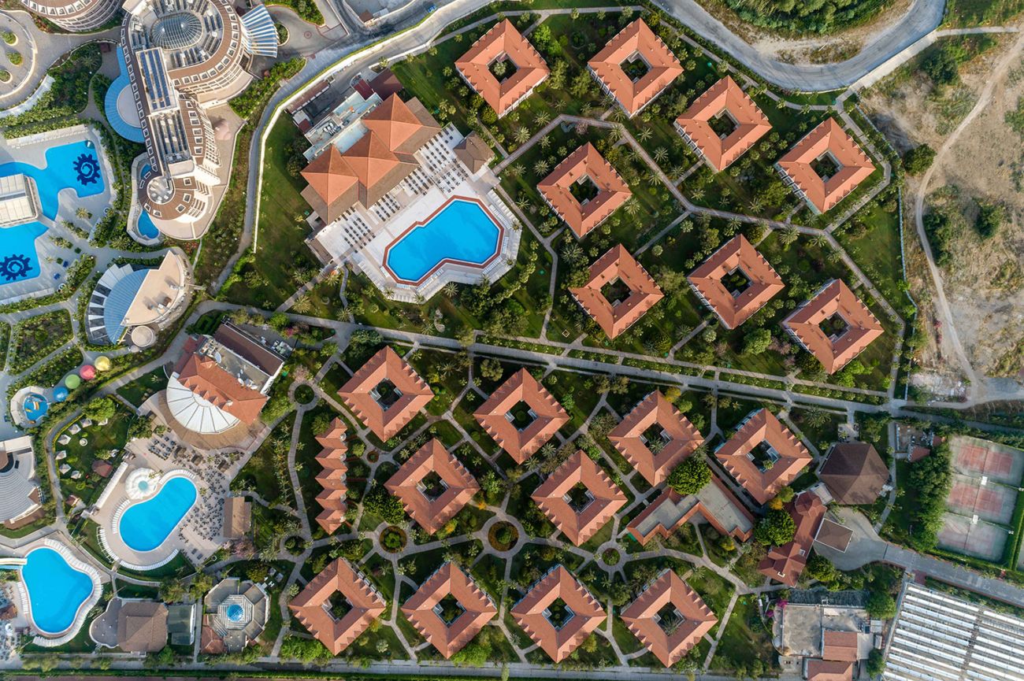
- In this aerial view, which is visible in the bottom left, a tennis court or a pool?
pool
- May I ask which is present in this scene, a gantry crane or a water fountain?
water fountain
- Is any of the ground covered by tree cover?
Yes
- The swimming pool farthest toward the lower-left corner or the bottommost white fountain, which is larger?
the swimming pool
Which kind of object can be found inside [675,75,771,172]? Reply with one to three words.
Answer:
house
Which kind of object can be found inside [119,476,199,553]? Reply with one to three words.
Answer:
swimming pool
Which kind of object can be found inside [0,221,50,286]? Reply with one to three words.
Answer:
swimming pool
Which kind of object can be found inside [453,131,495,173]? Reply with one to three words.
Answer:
building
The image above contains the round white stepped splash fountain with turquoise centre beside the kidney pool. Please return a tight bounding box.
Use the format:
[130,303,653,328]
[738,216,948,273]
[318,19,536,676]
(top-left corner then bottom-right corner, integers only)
[128,472,158,500]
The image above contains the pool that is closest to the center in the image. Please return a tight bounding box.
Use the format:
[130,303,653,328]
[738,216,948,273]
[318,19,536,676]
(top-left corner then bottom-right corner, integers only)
[384,196,504,285]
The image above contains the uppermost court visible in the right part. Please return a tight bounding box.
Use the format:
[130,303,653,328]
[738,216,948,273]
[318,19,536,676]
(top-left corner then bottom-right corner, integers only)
[946,437,1024,489]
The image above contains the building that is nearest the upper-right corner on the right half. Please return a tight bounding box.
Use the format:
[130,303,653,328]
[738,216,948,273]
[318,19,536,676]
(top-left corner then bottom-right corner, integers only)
[775,118,874,214]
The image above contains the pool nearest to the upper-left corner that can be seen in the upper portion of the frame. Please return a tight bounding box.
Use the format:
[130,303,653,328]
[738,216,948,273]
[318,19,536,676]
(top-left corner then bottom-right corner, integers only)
[0,138,106,222]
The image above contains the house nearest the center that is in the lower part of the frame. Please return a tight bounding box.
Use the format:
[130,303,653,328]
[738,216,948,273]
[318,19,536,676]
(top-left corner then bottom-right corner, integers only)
[474,368,569,464]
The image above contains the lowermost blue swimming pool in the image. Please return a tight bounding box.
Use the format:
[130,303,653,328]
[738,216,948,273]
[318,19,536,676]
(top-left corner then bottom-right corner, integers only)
[21,547,95,634]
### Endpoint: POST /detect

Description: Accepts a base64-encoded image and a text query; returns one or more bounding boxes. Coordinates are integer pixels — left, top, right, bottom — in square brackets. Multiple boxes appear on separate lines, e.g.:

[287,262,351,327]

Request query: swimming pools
[119,476,199,553]
[0,221,50,286]
[22,392,50,421]
[137,208,160,240]
[21,547,95,634]
[384,196,504,285]
[0,138,106,222]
